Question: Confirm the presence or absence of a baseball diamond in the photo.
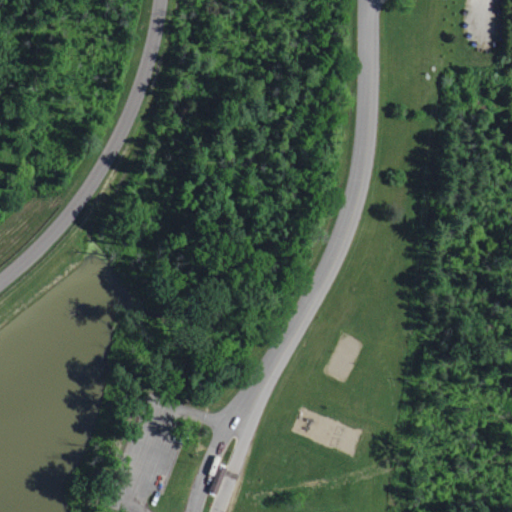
No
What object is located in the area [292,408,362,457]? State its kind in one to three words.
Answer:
playground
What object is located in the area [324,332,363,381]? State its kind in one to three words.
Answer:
sports court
